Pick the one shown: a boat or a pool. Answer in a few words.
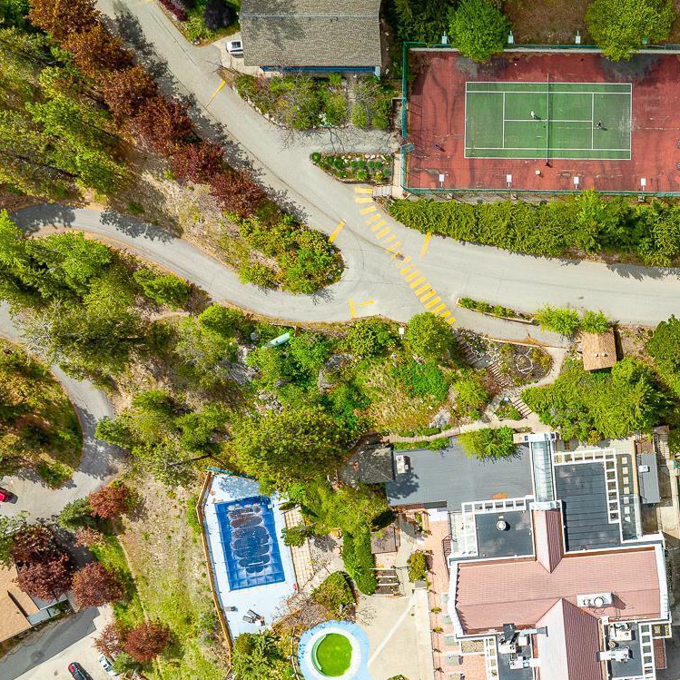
pool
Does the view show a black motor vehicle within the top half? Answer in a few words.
No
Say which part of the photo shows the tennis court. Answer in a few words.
top right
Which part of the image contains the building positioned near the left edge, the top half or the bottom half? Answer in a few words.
bottom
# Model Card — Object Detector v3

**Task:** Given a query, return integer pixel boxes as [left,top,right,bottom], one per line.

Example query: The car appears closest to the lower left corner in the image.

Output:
[70,660,92,680]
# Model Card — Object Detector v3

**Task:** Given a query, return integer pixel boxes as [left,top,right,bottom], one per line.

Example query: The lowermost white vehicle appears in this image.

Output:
[98,652,119,679]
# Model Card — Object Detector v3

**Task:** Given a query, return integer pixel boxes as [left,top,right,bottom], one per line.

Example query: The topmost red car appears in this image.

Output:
[0,490,17,504]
